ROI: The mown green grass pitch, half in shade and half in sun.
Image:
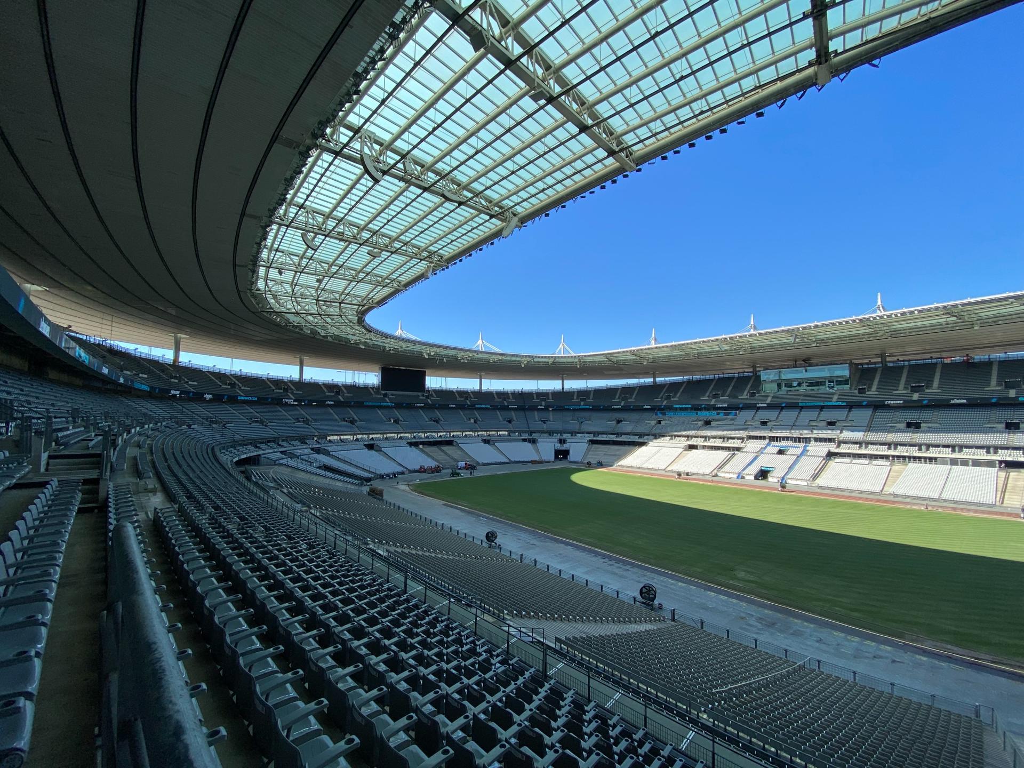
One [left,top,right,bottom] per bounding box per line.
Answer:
[411,467,1024,673]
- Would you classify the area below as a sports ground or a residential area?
sports ground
